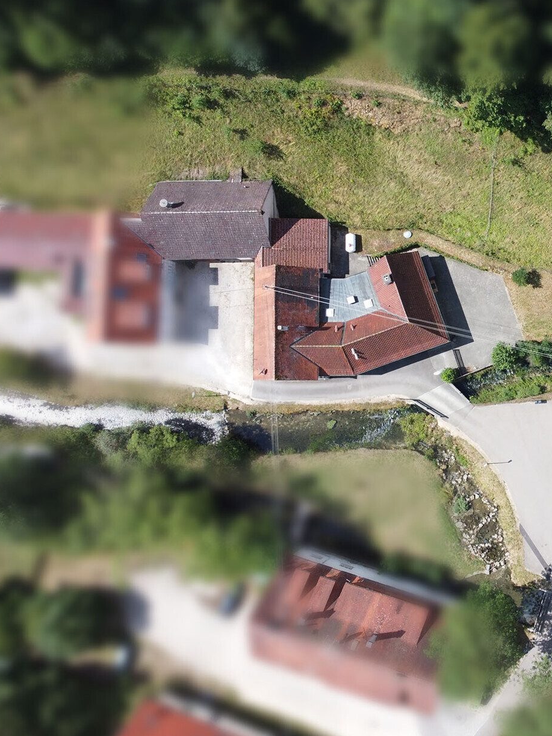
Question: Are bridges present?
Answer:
Yes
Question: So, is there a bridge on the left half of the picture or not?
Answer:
No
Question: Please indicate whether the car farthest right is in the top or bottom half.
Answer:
bottom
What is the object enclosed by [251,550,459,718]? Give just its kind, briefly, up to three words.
house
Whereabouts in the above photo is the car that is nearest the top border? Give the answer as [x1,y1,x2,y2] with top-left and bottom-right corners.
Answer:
[214,584,243,621]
